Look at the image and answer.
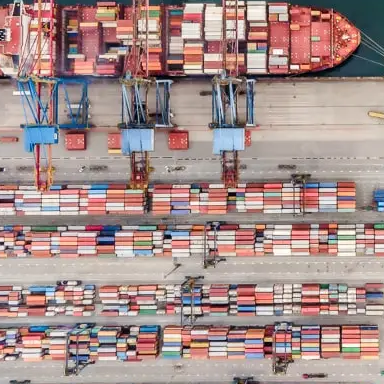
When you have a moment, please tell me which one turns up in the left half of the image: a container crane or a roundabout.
container crane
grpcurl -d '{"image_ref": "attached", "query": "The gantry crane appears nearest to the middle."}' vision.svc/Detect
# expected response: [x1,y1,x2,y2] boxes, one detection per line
[201,220,226,269]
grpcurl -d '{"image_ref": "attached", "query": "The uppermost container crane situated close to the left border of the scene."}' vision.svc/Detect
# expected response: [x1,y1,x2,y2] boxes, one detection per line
[14,0,101,192]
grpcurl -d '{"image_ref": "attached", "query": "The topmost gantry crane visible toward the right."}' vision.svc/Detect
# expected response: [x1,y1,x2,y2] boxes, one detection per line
[209,0,267,185]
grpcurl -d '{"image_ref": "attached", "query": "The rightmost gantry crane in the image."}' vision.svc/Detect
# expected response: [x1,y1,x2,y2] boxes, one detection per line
[289,173,312,220]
